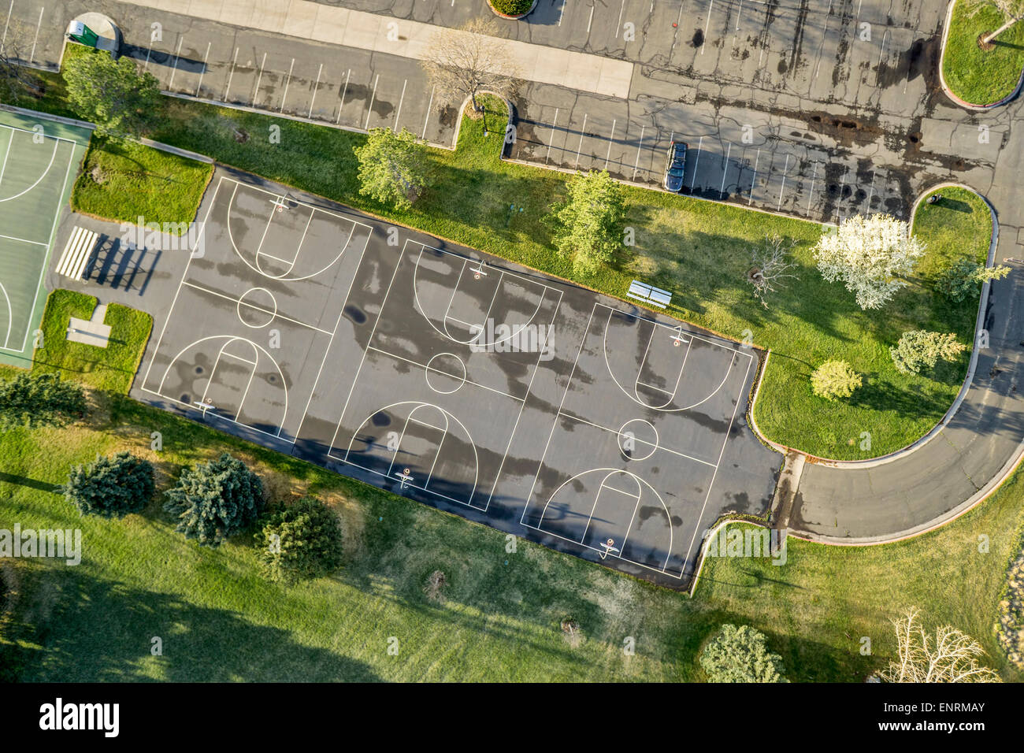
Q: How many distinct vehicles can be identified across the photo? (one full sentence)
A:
I count 1 vehicle.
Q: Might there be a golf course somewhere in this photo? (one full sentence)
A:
No, I can't see a single golf course in this photo.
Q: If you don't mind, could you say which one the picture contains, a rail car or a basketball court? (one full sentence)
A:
Of the two, only a basketball court appears.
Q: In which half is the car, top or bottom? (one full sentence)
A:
You can find the car in the top half.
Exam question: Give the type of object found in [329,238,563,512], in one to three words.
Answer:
basketball court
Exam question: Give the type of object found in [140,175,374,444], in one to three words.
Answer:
basketball court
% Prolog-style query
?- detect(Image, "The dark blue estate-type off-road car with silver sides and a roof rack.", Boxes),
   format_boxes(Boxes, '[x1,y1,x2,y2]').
[661,140,690,193]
